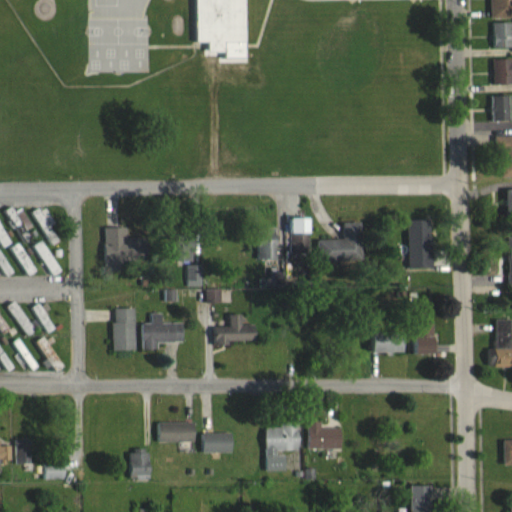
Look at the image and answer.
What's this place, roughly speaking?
residential area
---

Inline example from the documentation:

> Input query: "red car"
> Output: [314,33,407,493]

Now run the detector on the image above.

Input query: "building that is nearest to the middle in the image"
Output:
[258,239,280,260]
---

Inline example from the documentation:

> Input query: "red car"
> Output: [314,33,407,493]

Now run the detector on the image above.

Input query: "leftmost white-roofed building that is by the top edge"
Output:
[198,0,248,64]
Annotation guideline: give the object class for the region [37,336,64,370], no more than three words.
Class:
house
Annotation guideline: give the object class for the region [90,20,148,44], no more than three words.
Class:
basketball court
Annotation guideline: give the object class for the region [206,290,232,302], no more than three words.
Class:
shed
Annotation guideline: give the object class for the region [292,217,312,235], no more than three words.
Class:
building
